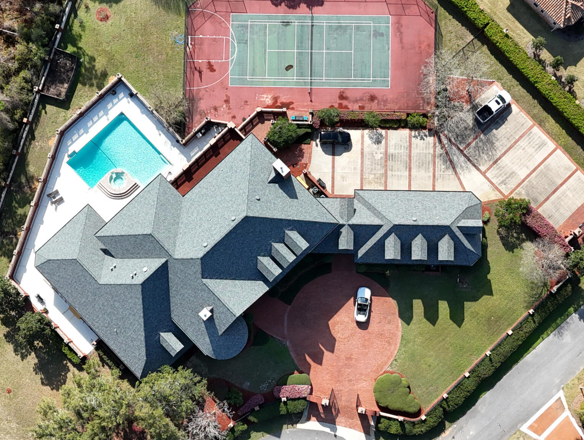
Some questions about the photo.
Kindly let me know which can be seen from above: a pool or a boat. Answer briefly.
pool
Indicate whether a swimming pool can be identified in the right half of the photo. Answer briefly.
No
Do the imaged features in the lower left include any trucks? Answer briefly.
No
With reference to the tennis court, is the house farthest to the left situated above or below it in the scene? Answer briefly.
below it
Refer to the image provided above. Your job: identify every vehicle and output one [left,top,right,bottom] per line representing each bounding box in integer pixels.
[473,90,512,126]
[355,287,372,322]
[318,129,352,144]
